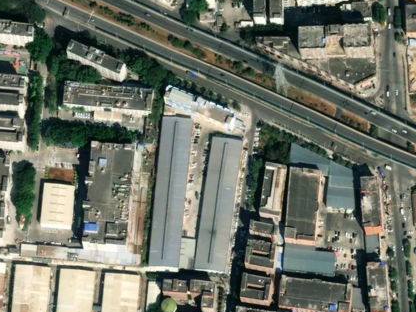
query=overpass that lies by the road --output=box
[98,0,416,146]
